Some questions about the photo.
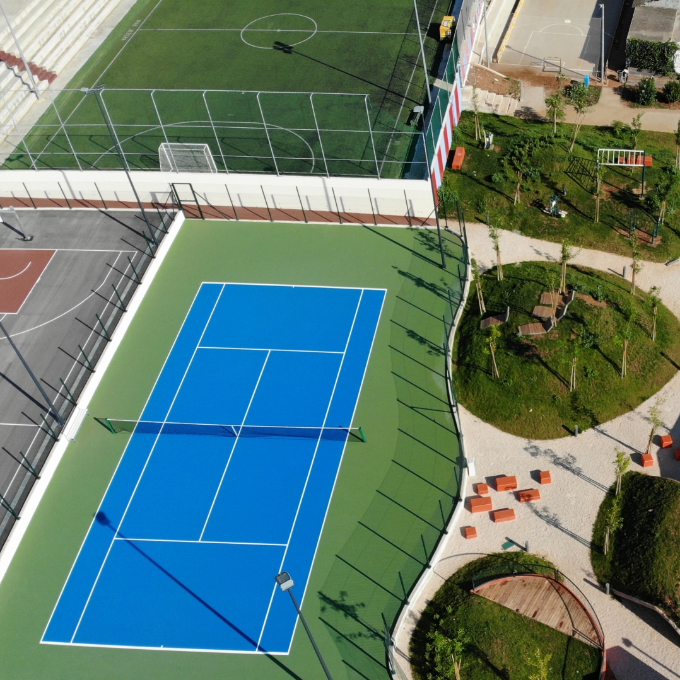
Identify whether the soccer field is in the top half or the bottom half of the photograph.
top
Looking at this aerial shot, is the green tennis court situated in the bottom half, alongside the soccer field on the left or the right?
left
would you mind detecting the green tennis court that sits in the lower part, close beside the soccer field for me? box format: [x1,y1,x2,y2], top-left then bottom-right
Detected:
[0,220,465,680]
